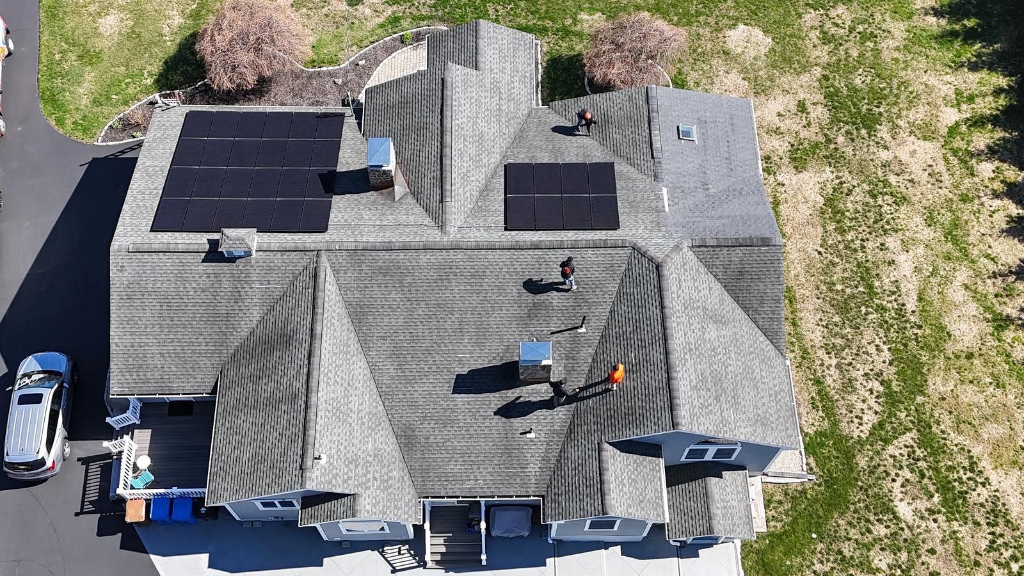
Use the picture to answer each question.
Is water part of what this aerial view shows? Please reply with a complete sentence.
No, water can't be seen anywhere here.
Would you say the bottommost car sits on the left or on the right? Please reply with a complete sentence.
The bottommost car appears in the left half of the scene.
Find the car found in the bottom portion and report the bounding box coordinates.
[1,347,77,483]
